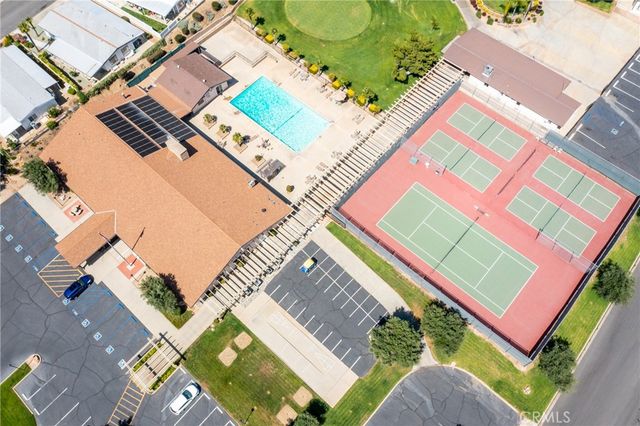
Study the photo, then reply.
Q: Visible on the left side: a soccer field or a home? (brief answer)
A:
home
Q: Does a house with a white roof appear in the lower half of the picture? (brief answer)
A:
No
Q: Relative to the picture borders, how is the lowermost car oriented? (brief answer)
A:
on a diagonal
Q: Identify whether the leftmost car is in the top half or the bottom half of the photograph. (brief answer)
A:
bottom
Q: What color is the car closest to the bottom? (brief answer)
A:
white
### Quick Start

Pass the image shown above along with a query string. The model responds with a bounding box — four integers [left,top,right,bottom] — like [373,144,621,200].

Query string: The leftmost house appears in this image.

[0,43,62,145]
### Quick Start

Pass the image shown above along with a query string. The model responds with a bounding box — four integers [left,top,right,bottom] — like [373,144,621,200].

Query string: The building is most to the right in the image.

[439,29,579,131]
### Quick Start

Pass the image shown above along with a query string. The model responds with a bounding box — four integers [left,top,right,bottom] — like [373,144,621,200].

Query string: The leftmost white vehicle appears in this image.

[167,382,202,417]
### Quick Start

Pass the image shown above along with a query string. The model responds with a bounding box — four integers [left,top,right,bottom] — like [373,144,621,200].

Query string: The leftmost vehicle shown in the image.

[60,274,94,302]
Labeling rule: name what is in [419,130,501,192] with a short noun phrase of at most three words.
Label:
sports court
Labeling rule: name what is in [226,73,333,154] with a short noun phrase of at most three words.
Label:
swimming pool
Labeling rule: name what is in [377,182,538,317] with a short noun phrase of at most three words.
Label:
tennis court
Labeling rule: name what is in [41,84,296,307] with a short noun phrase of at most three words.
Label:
building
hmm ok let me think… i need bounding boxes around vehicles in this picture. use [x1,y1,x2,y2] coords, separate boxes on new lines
[301,257,318,275]
[60,274,94,302]
[167,382,202,417]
